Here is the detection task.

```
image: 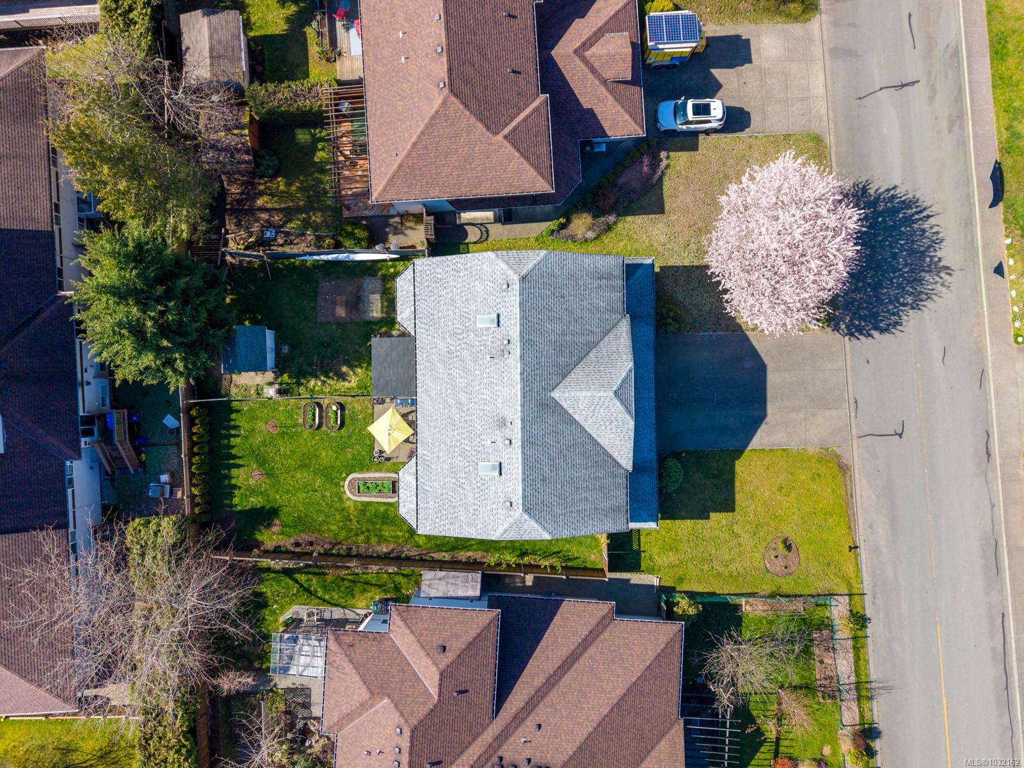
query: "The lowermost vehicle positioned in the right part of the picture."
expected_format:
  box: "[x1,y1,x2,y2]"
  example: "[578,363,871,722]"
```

[655,96,728,136]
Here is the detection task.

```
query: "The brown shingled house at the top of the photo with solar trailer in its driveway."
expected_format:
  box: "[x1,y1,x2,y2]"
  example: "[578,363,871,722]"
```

[357,0,648,215]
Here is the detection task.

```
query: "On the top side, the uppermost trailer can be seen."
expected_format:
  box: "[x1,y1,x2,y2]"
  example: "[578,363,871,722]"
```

[642,10,711,68]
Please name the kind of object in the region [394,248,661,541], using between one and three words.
house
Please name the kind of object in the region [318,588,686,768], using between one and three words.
house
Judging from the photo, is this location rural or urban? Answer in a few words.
urban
